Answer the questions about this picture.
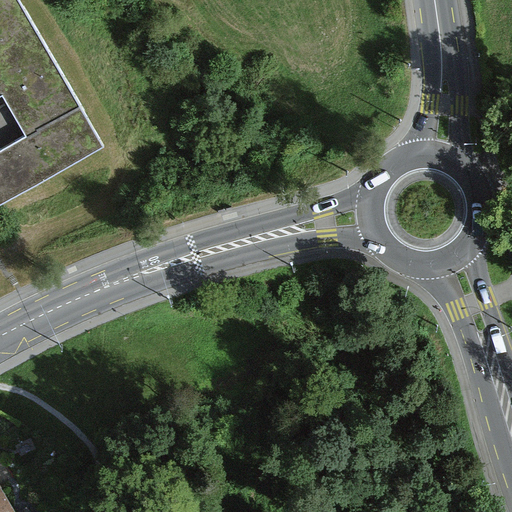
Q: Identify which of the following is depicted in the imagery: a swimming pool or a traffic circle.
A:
traffic circle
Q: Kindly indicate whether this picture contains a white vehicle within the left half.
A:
No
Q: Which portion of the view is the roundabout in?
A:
right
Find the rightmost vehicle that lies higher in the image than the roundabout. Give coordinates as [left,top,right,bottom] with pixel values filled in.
[413,111,428,133]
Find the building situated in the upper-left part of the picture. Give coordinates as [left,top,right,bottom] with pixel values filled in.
[0,0,103,206]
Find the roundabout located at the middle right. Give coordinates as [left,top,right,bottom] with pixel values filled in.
[356,139,491,280]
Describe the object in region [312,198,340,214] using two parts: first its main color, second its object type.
white car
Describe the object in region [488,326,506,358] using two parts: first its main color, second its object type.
white vehicle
